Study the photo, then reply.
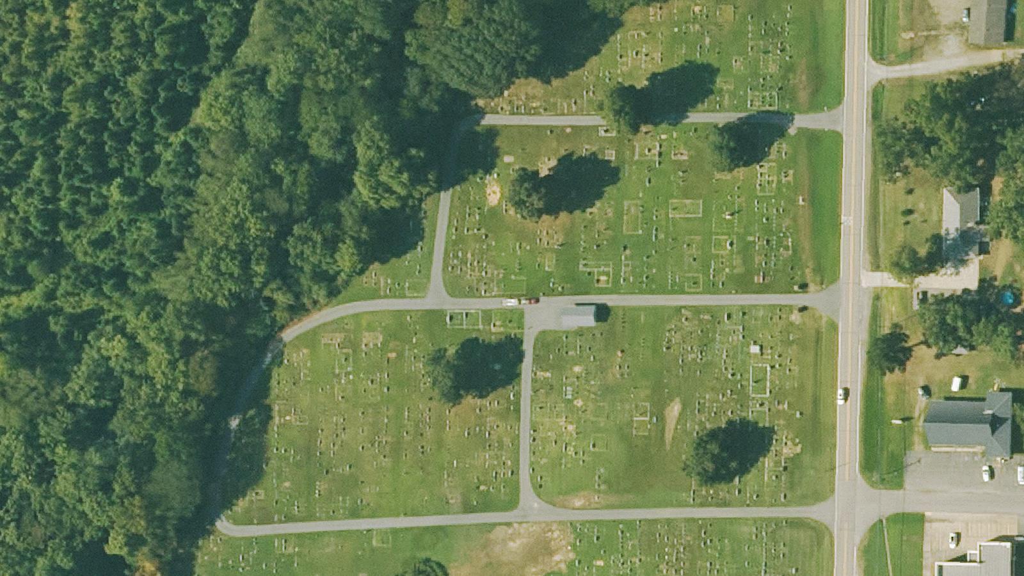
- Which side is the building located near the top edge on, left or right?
right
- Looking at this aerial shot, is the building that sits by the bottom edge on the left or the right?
right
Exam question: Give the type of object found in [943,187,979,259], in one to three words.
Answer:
house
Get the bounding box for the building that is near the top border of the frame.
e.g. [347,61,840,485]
[970,0,1006,44]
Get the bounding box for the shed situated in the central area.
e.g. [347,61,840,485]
[561,305,596,326]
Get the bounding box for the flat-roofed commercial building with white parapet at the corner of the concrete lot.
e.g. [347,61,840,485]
[934,541,1011,576]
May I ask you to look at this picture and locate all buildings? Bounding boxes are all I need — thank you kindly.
[924,392,1012,456]
[934,541,1011,576]
[970,0,1006,44]
[561,305,596,326]
[943,187,979,259]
